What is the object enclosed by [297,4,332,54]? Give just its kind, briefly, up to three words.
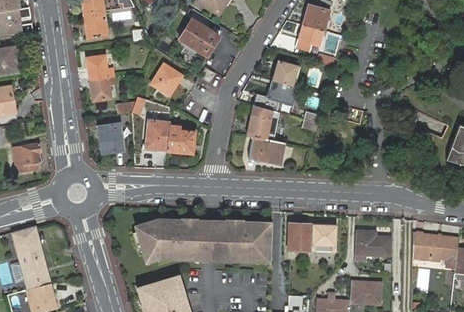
house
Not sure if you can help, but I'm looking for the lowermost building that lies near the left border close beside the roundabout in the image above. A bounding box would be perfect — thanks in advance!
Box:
[11,226,59,312]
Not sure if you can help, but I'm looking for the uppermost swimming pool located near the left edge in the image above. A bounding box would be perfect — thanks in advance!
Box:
[0,261,14,287]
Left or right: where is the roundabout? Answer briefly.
left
